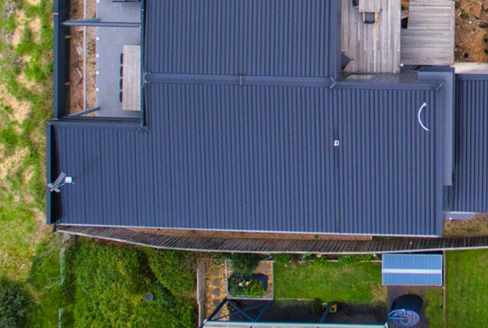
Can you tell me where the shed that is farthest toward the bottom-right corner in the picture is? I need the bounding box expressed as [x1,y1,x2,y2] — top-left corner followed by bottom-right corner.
[382,245,443,286]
